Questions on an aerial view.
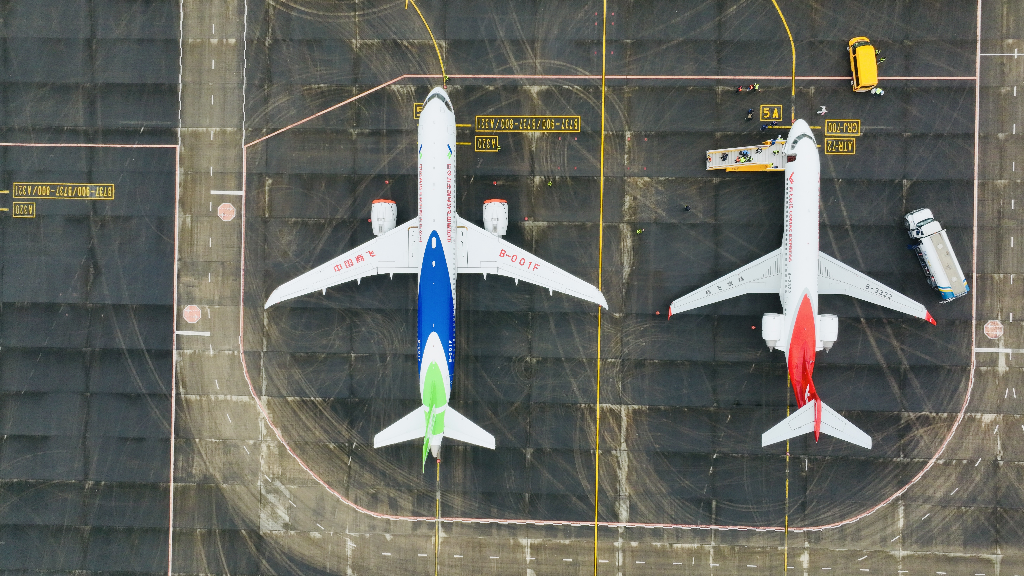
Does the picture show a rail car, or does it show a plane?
plane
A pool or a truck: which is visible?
truck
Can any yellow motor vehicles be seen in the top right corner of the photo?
Yes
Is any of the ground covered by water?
No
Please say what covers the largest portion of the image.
paved ground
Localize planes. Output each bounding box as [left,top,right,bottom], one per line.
[263,87,610,471]
[671,120,937,450]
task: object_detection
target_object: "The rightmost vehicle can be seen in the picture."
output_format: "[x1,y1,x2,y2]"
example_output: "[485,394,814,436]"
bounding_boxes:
[904,207,968,303]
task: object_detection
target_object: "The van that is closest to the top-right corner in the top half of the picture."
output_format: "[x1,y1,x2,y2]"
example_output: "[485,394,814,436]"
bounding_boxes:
[847,37,877,93]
